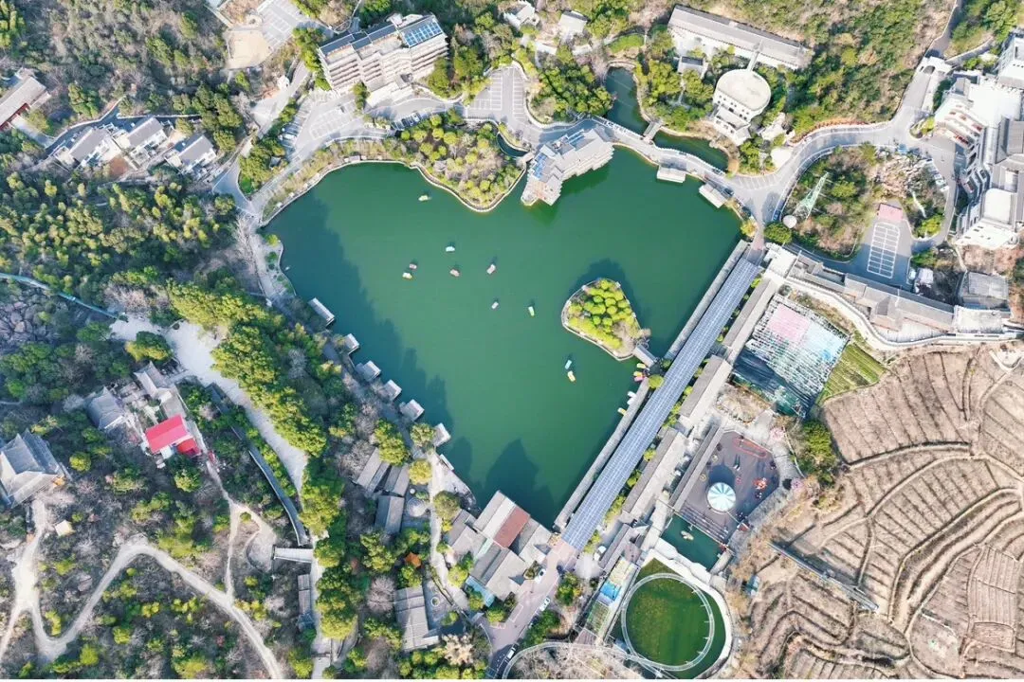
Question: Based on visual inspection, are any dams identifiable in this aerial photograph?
Yes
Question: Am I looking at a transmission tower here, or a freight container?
transmission tower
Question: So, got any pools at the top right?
No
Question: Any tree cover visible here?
Yes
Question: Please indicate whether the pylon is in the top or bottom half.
top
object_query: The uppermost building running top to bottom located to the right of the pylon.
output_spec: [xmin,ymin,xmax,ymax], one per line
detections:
[930,42,1024,252]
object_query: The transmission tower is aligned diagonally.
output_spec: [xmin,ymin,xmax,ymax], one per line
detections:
[790,171,835,225]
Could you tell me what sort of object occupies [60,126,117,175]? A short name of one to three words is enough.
house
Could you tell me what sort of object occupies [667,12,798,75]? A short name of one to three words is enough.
building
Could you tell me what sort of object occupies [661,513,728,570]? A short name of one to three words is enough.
swimming pool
